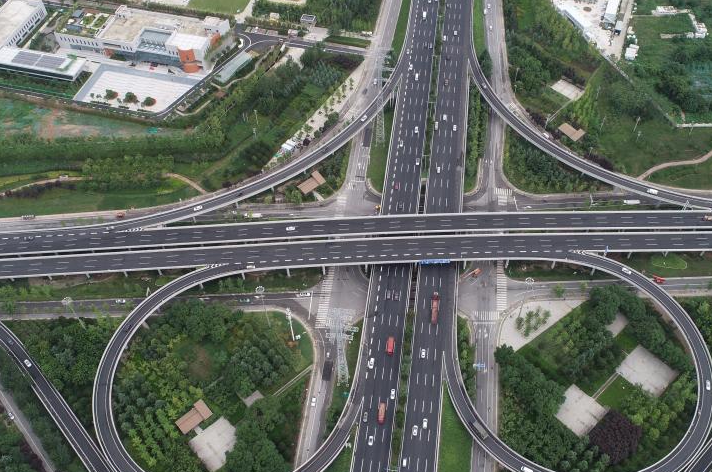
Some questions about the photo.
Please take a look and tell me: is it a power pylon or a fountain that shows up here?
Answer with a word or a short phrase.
power pylon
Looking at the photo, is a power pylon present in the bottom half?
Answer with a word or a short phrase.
Yes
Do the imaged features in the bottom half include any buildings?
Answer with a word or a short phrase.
Yes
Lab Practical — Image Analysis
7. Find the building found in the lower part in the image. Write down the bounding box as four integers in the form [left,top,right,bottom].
[176,400,212,437]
